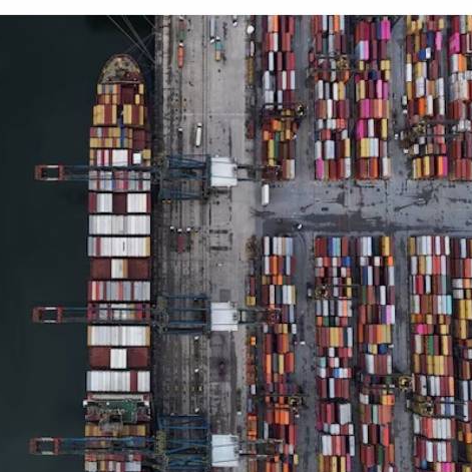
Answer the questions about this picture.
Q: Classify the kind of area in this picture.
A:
port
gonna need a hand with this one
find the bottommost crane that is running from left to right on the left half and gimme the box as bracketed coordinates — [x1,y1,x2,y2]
[30,403,286,470]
